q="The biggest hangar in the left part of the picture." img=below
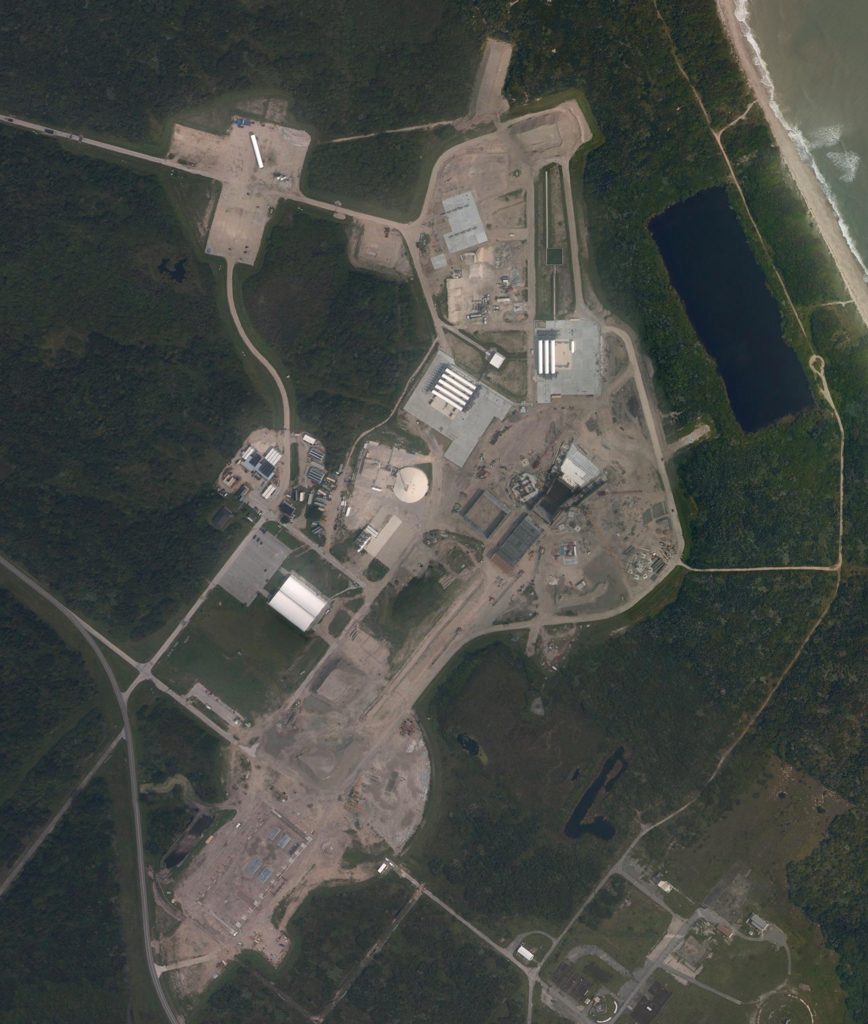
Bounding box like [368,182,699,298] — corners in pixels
[269,575,327,632]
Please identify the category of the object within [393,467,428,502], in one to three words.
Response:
water tank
